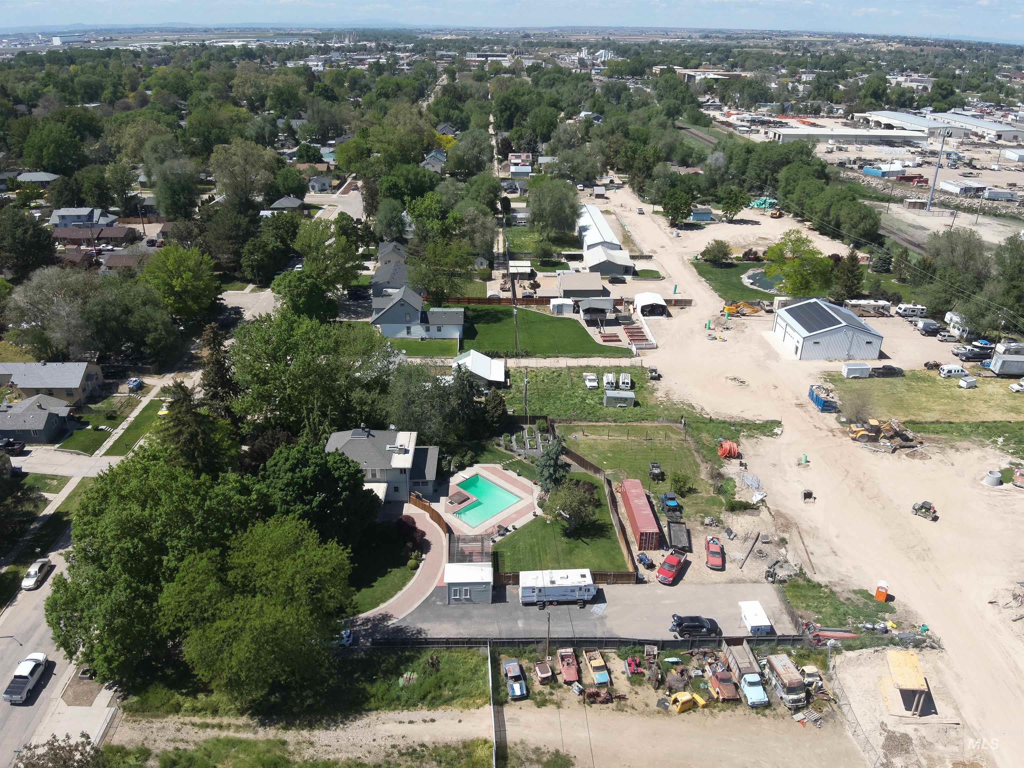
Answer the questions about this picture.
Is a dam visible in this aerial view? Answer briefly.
No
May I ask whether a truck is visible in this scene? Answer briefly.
Yes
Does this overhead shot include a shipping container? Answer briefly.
Yes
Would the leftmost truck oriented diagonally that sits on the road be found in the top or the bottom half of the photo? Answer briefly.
bottom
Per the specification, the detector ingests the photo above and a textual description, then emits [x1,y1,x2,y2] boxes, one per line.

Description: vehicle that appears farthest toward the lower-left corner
[1,653,51,705]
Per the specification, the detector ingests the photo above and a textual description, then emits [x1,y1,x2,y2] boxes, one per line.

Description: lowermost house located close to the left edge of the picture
[0,401,91,443]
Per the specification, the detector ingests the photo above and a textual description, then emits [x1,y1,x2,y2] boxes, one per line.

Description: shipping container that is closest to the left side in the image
[620,479,659,547]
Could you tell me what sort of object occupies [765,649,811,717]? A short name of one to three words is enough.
van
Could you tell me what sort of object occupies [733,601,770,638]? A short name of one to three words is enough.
trailer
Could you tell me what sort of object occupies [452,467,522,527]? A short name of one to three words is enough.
swimming pool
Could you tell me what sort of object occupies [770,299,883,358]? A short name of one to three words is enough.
building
